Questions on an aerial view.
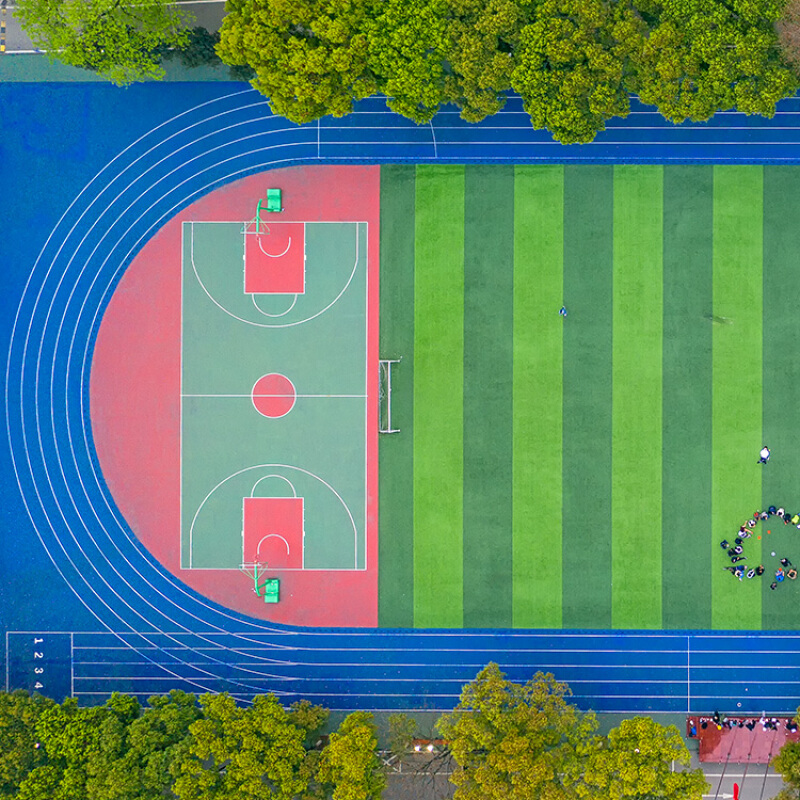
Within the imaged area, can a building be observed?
No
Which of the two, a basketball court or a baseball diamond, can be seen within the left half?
basketball court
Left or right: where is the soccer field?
right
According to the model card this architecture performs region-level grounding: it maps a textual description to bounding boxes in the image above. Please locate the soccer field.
[380,165,800,630]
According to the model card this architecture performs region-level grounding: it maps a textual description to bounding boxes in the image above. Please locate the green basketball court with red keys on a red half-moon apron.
[89,165,380,628]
